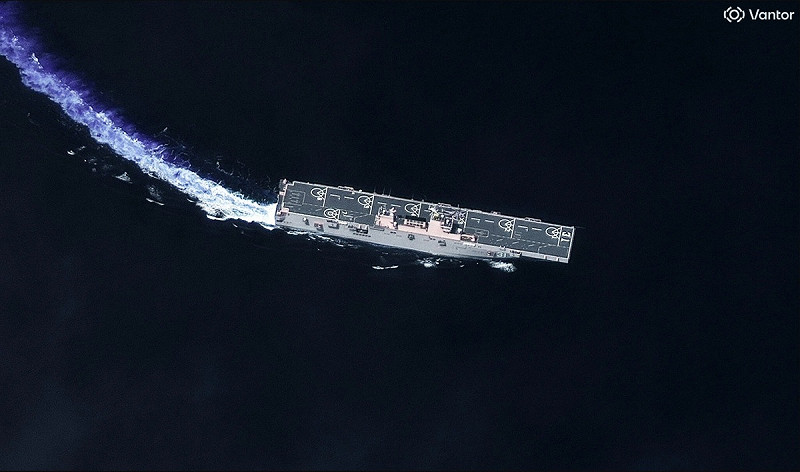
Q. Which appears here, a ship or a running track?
ship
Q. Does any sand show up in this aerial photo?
No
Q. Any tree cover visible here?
No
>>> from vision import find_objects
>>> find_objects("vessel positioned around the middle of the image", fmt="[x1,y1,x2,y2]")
[274,178,576,262]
